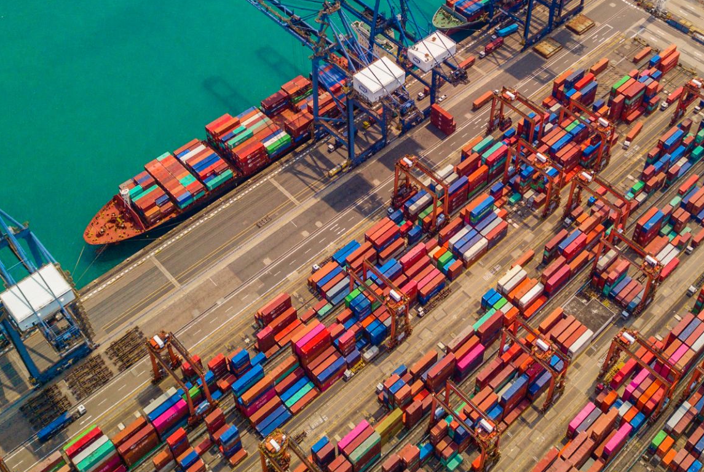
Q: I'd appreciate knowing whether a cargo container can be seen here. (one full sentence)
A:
Yes, this view includes a cargo container.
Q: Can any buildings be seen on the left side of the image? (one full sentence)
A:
No, on the left side of the image there is no building.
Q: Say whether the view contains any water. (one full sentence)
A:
Yes, some water is visible.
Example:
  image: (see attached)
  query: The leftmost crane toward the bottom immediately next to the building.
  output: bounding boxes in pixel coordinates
[497,313,577,409]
